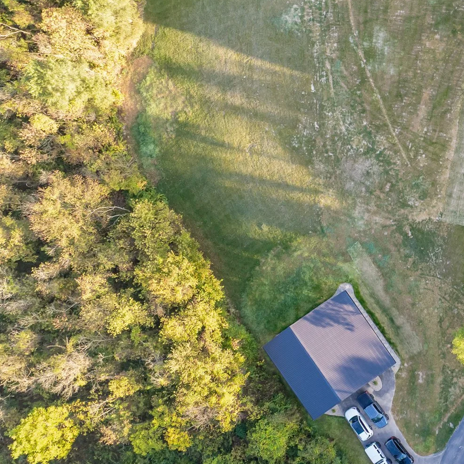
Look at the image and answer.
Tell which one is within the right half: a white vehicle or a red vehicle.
white vehicle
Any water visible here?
No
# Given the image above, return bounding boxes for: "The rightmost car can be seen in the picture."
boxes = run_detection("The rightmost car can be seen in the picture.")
[385,434,415,464]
